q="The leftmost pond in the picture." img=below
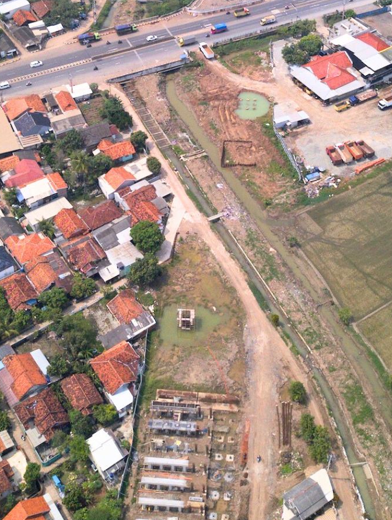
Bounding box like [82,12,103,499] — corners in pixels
[152,301,229,348]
